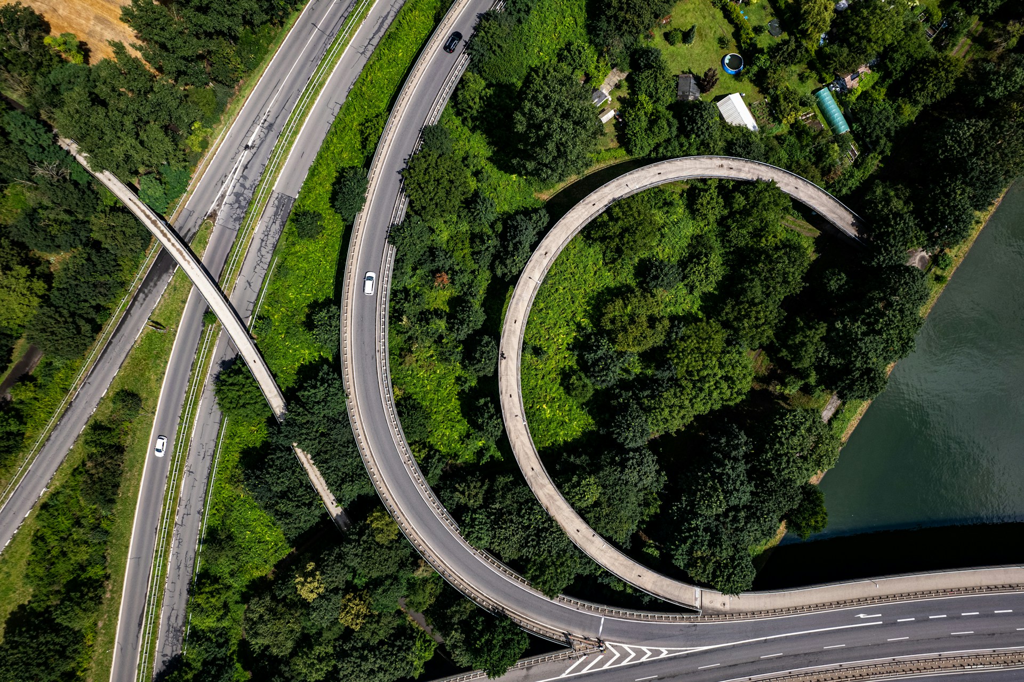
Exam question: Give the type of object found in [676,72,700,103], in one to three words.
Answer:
shed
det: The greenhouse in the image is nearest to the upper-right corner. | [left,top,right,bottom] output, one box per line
[815,86,850,133]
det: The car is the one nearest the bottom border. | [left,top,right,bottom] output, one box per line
[153,435,168,458]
